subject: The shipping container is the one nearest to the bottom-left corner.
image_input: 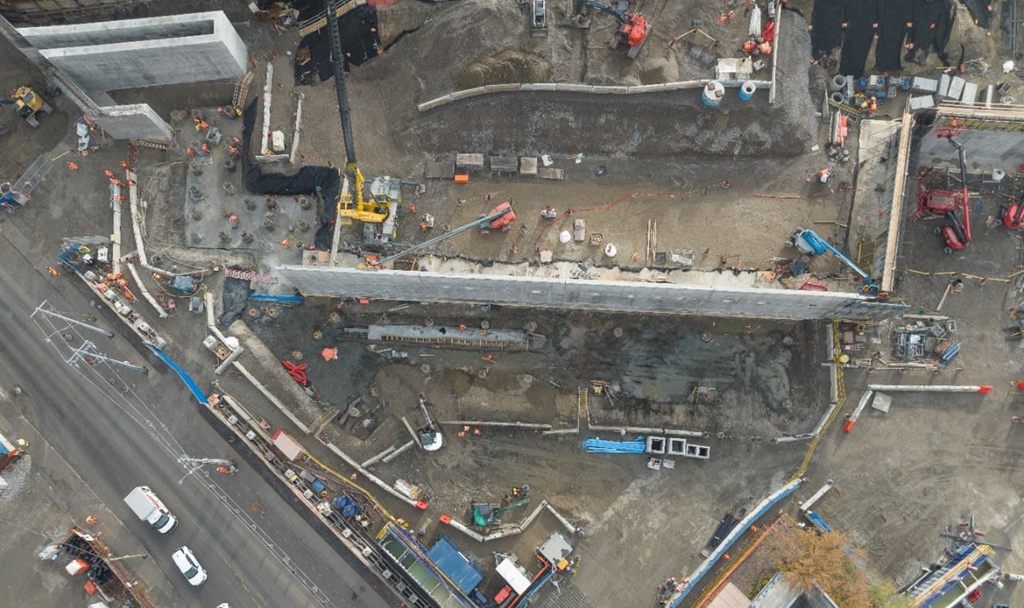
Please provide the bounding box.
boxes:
[427,534,487,596]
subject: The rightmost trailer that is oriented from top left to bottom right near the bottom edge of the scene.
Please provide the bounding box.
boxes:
[488,546,532,596]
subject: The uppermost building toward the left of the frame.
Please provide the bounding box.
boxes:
[268,428,303,458]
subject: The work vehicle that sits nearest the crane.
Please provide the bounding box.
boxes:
[358,201,521,271]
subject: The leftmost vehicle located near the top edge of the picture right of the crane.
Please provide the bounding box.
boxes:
[529,0,550,35]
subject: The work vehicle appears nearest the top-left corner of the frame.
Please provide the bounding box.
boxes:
[0,85,57,130]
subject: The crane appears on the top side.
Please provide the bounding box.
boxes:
[320,0,421,249]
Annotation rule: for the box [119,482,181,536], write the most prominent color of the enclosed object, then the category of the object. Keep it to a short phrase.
white van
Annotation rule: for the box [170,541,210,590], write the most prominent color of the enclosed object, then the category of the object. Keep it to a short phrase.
white car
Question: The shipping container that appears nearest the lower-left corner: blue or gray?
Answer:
blue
